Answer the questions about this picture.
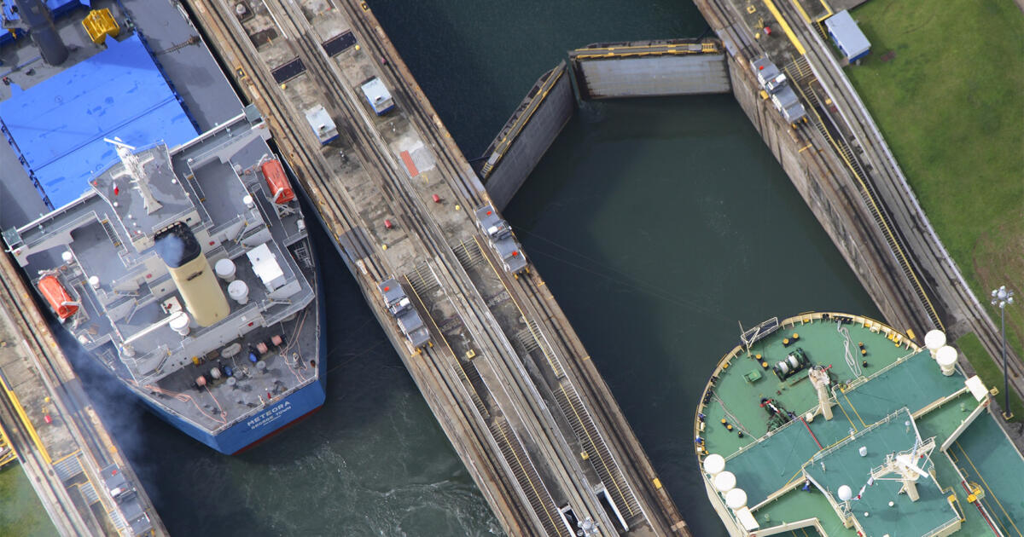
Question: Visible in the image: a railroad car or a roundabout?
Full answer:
The one in the frame is a railroad car.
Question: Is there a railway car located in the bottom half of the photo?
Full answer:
Yes, looking in the bottom half of the photo, one can make out a railway car.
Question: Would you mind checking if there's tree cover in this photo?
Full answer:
No, the picture contains no tree cover.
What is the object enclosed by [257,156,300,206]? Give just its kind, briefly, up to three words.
boat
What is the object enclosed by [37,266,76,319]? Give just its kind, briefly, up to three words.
boat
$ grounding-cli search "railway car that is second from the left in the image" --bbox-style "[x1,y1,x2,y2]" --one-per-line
[378,276,432,351]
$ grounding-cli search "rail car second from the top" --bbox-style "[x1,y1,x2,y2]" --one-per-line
[475,201,528,274]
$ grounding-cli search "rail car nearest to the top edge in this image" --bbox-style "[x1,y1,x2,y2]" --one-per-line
[752,52,806,124]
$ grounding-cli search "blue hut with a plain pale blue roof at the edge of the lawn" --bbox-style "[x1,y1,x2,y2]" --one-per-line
[823,9,872,68]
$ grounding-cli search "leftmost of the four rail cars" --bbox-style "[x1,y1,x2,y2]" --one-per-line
[97,464,150,537]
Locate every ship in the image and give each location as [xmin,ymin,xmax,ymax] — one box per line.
[693,313,1024,537]
[0,0,326,457]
